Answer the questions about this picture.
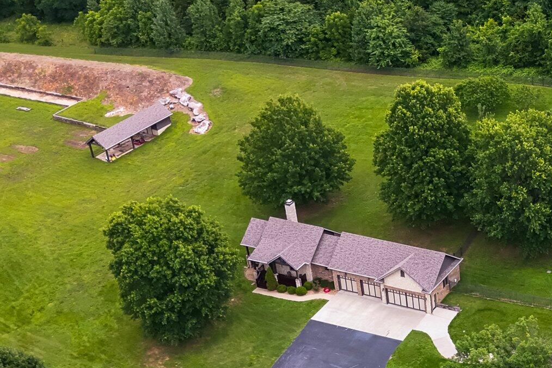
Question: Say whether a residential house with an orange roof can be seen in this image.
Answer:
No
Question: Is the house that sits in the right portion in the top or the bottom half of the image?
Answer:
bottom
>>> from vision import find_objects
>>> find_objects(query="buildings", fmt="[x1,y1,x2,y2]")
[240,194,464,314]
[81,100,172,162]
